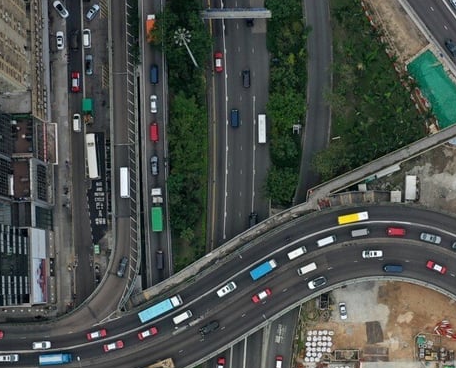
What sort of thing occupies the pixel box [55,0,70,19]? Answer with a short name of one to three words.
car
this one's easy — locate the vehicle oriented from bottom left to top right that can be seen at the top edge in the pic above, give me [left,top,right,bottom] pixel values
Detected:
[85,3,101,23]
